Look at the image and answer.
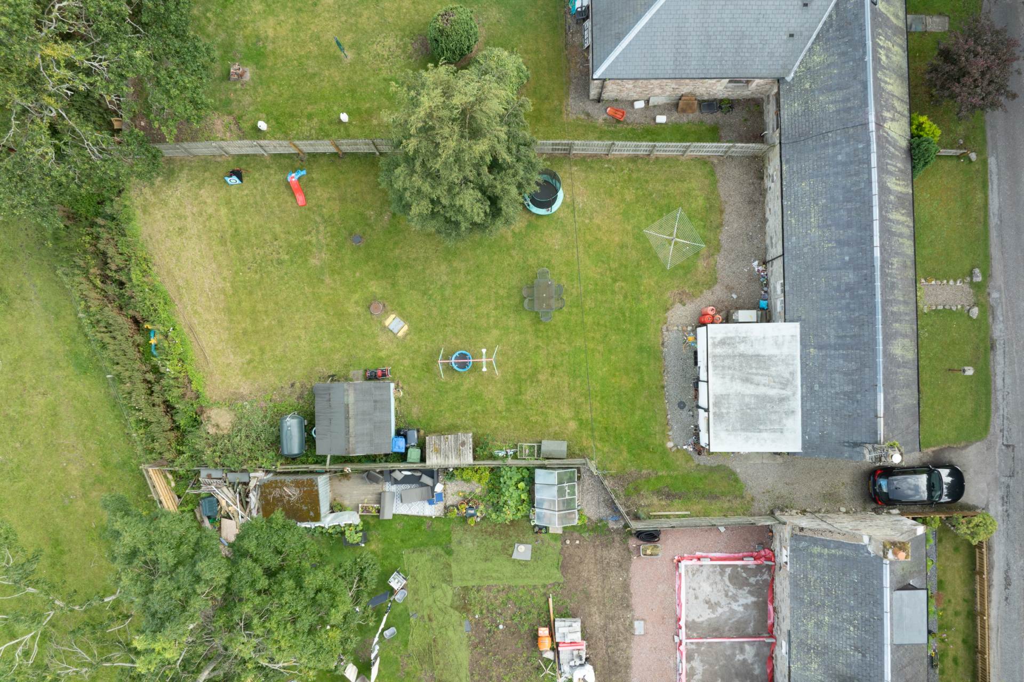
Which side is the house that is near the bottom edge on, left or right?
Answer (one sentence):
It is on the right.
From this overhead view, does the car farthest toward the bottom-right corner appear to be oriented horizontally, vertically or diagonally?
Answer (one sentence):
In this picture, the car farthest toward the bottom-right corner lies horizontally.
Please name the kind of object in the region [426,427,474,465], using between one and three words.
building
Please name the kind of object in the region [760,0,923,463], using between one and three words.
house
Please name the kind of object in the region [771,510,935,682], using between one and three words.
house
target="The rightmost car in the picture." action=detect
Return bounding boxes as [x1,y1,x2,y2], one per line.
[867,460,966,511]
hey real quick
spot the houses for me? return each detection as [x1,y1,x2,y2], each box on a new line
[771,510,935,682]
[760,0,923,463]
